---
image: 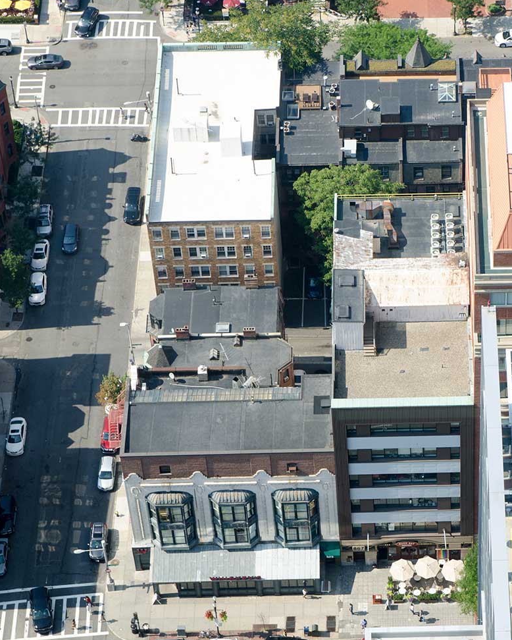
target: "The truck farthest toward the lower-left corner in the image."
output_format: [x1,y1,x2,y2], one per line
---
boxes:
[29,584,52,634]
